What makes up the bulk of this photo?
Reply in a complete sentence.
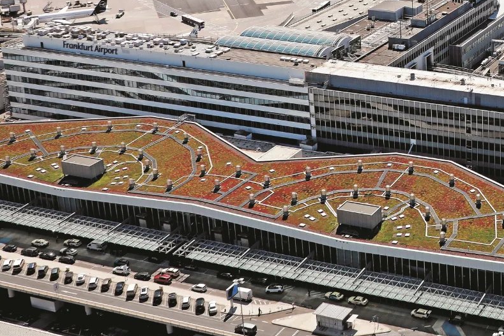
Most of the picture is covered by buildings.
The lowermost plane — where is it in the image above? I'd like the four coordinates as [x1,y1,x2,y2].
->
[189,20,212,42]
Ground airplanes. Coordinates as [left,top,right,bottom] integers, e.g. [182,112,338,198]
[14,0,110,23]
[189,20,212,42]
